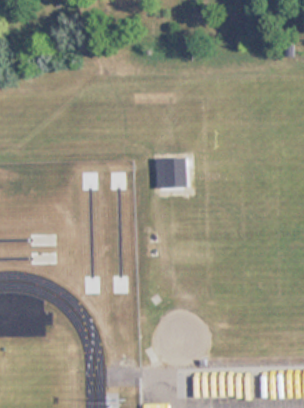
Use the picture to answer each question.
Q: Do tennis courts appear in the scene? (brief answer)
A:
No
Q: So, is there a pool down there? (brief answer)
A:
No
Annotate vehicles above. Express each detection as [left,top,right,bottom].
[278,372,285,399]
[219,372,226,399]
[245,374,252,400]
[260,372,268,399]
[286,372,293,398]
[236,372,243,400]
[202,372,209,399]
[210,372,218,399]
[194,372,200,399]
[227,372,234,399]
[269,372,276,399]
[144,403,170,408]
